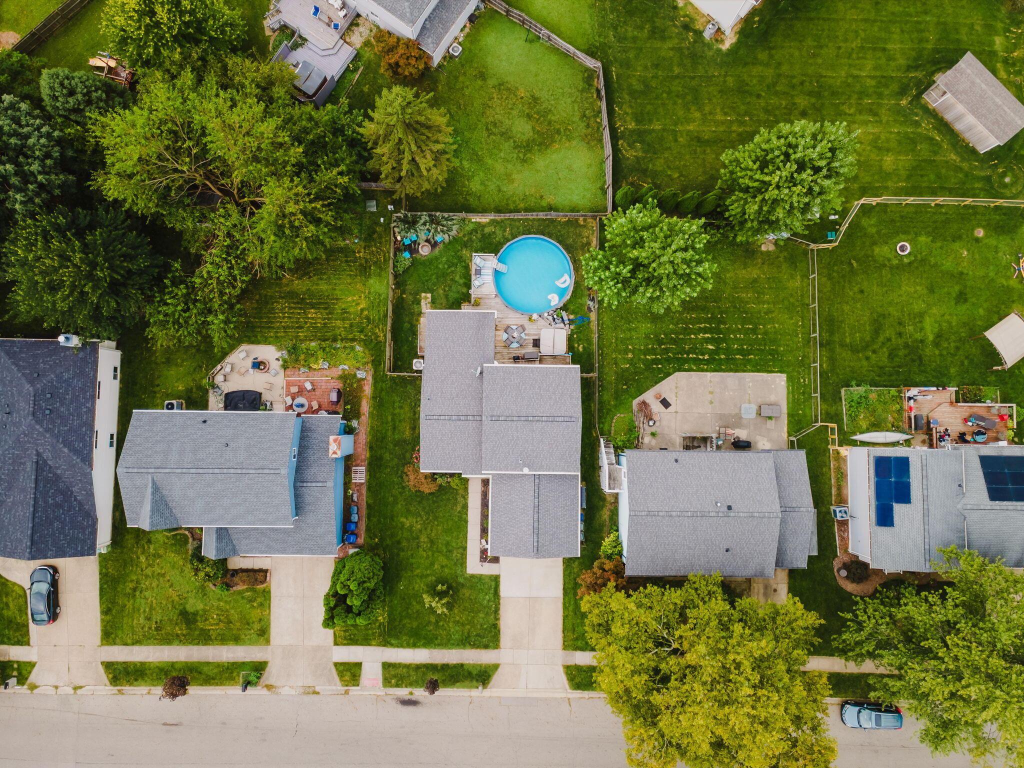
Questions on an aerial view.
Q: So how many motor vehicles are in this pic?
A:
2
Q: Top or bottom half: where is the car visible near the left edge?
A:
bottom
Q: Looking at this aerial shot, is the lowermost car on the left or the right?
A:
right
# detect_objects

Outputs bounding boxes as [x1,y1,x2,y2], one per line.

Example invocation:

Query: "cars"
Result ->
[840,695,904,728]
[28,566,62,627]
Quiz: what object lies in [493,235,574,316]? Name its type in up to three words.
swimming pool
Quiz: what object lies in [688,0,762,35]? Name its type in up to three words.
house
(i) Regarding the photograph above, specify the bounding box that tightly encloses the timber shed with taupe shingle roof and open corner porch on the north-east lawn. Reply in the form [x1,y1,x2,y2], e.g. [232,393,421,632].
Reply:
[923,51,1024,154]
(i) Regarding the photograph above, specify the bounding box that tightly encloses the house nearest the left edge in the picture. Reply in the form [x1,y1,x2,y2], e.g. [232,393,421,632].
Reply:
[0,335,121,559]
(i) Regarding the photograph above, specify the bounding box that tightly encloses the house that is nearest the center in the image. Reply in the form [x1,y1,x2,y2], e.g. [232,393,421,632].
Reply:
[420,310,582,559]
